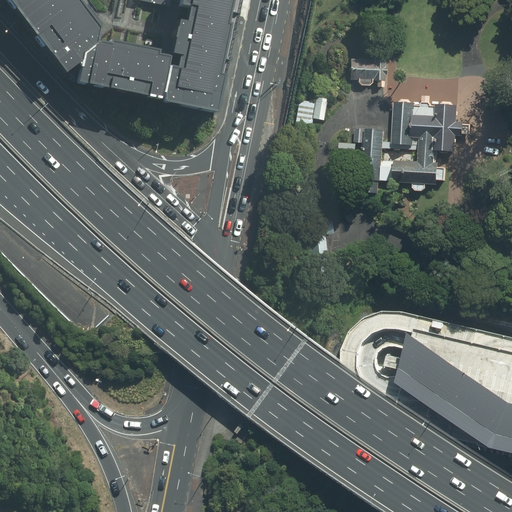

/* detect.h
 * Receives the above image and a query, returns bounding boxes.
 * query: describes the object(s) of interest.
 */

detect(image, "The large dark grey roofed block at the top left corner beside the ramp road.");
[8,0,104,74]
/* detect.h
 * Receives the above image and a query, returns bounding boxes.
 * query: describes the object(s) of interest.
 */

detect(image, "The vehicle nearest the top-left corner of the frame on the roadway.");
[34,80,50,95]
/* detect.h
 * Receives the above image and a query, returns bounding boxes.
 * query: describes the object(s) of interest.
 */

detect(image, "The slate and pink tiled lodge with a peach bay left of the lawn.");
[351,59,388,96]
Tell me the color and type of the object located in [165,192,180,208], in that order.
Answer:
white car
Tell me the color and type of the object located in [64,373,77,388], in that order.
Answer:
white vehicle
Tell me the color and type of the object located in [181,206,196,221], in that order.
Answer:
white car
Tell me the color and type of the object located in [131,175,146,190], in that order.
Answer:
gray car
